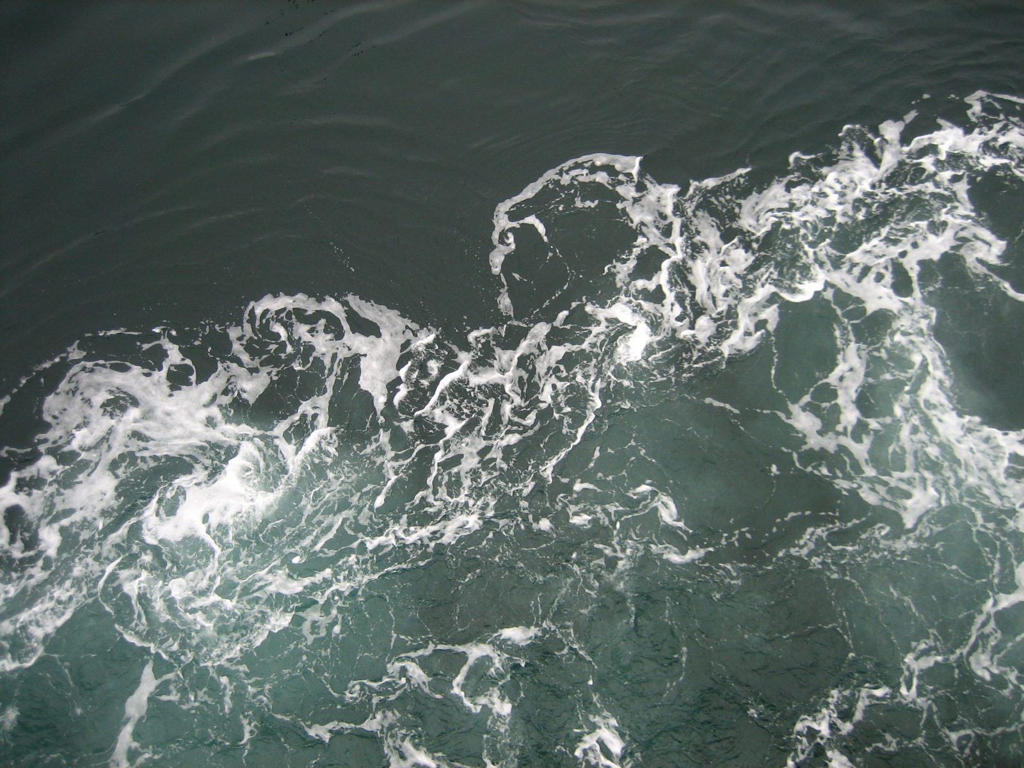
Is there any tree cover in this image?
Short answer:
No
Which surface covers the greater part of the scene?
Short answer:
water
